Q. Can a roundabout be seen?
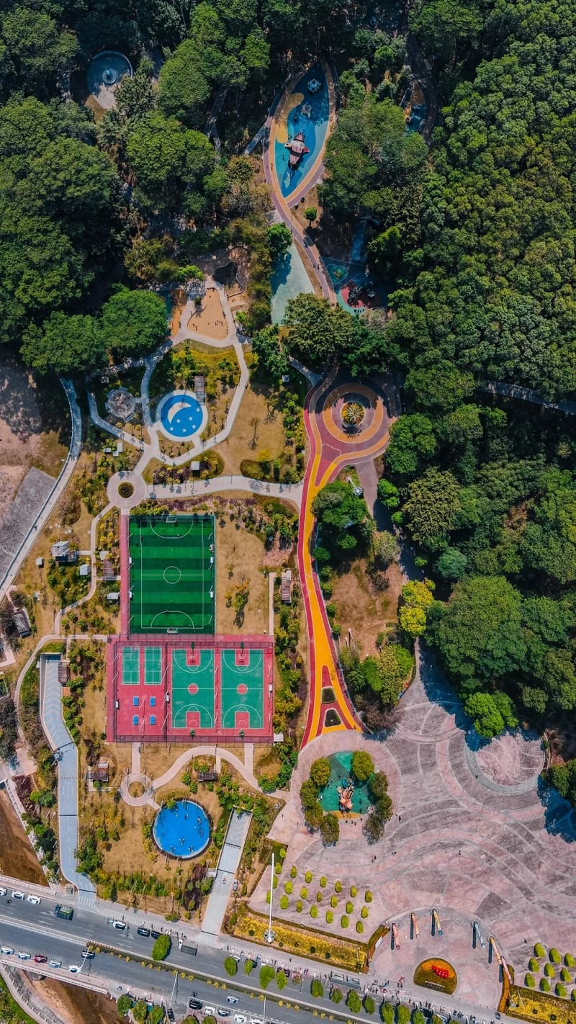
Yes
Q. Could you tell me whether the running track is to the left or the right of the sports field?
to its right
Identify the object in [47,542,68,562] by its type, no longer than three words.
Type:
shed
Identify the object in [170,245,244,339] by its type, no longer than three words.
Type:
playground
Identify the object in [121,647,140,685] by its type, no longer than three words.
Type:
sports court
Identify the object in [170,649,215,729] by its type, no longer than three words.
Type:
basketball court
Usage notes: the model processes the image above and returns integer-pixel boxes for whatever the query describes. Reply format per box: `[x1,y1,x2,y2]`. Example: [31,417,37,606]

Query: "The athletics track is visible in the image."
[298,380,389,748]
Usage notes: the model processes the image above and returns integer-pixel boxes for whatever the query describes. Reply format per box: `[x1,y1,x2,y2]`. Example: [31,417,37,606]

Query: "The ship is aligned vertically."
[282,117,312,185]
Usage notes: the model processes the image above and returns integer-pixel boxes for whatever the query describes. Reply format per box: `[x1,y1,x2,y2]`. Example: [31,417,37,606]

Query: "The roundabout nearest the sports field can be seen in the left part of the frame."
[108,472,145,509]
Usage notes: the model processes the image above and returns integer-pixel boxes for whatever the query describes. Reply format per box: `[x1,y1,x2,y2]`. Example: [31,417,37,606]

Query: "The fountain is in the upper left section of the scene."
[99,65,118,85]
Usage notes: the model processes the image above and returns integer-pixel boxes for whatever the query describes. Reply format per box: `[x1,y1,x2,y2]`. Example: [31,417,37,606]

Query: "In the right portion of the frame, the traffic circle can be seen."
[316,367,400,459]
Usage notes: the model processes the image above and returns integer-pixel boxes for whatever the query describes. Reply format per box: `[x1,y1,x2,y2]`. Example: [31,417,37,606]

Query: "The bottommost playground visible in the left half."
[156,390,207,442]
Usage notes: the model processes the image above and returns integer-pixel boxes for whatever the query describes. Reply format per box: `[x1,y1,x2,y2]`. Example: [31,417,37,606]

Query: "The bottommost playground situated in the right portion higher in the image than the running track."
[322,256,390,316]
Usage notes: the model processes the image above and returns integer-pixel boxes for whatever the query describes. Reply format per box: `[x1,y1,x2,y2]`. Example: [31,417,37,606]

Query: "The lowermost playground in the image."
[313,753,380,820]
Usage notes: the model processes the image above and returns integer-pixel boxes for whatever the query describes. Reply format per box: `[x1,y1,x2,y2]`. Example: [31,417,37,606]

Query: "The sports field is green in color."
[127,515,216,634]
